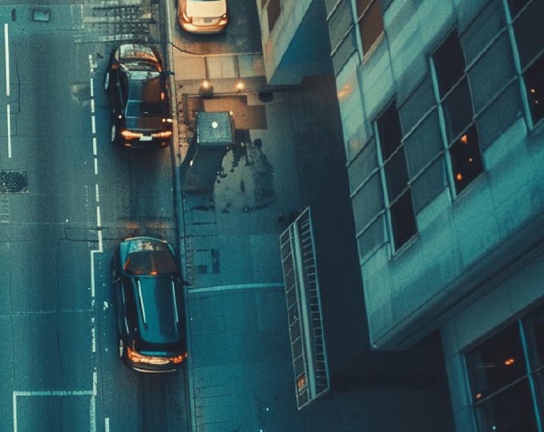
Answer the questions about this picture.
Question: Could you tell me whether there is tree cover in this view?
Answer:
No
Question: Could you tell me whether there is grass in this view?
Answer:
No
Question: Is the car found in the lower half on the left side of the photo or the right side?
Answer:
left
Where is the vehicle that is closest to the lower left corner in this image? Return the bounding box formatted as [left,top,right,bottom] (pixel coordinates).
[113,237,190,375]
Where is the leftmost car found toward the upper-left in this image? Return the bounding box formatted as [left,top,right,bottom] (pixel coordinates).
[102,41,175,149]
